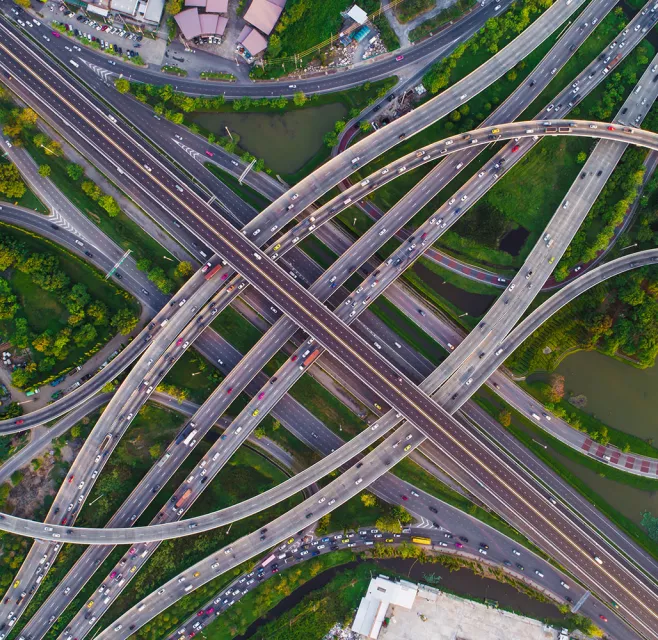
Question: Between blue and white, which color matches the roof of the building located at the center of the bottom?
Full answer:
The roof of the building located at the center of the bottom looks white in the image.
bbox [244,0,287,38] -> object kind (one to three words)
house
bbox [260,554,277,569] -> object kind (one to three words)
vehicle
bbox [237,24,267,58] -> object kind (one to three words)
house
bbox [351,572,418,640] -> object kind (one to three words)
building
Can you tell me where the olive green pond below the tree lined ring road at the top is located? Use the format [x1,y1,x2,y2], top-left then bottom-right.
[190,100,348,174]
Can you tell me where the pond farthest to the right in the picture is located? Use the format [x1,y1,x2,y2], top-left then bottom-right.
[526,351,658,447]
